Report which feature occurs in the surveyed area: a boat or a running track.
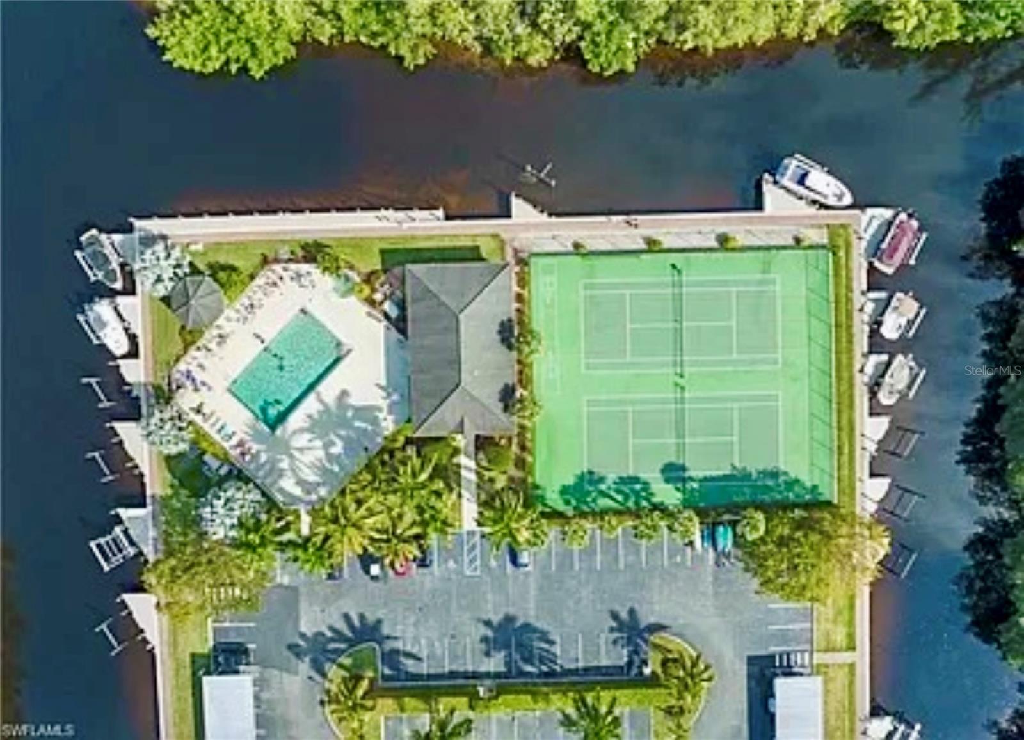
boat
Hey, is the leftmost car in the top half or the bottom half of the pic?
bottom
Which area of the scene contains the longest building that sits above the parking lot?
center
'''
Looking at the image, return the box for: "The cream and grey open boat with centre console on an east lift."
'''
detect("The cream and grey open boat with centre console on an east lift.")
[879,351,916,405]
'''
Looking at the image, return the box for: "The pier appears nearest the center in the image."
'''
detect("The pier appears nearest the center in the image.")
[511,189,551,220]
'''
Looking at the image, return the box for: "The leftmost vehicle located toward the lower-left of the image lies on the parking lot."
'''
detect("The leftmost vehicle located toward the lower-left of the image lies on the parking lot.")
[212,650,253,672]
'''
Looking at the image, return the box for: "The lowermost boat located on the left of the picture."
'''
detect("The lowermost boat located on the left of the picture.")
[86,293,128,356]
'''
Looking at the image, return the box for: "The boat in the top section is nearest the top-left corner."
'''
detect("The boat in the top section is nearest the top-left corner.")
[81,227,123,288]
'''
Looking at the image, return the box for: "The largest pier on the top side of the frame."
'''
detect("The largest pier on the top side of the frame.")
[128,205,444,234]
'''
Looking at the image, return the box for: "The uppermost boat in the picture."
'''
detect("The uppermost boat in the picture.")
[771,160,854,205]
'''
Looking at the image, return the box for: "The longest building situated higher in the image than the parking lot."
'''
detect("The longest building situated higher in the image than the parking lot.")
[404,261,516,455]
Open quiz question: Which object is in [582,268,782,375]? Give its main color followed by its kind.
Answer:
green tennis court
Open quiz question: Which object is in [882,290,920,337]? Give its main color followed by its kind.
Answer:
white boat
